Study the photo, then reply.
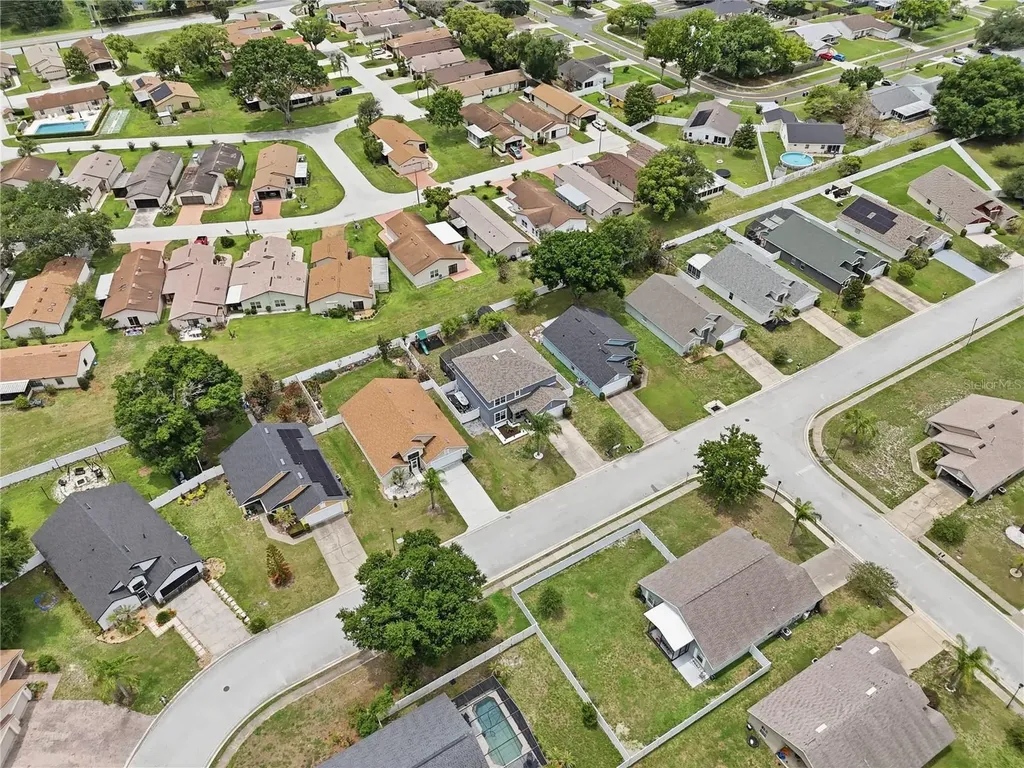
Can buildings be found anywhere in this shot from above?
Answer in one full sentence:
Yes, the frame does contain a building.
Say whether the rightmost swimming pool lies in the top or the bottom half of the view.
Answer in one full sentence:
The top half of the photo is where the rightmost swimming pool is.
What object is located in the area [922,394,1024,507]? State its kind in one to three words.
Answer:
house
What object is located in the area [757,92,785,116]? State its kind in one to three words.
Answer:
house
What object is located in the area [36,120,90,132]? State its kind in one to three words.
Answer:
swimming pool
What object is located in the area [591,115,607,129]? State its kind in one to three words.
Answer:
car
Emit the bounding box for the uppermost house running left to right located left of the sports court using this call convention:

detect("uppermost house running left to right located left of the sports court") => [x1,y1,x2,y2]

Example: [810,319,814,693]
[29,86,107,121]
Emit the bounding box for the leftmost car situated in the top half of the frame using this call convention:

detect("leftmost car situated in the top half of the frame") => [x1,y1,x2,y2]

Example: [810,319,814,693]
[195,232,208,248]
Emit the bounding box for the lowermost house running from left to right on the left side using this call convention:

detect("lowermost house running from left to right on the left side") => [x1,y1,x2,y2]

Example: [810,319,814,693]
[311,693,493,768]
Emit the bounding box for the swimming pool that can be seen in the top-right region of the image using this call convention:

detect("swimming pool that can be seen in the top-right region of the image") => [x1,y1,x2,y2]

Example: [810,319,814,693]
[781,151,815,172]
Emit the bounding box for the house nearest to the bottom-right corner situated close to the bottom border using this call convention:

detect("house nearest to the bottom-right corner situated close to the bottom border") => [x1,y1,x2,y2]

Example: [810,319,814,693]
[741,637,957,768]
